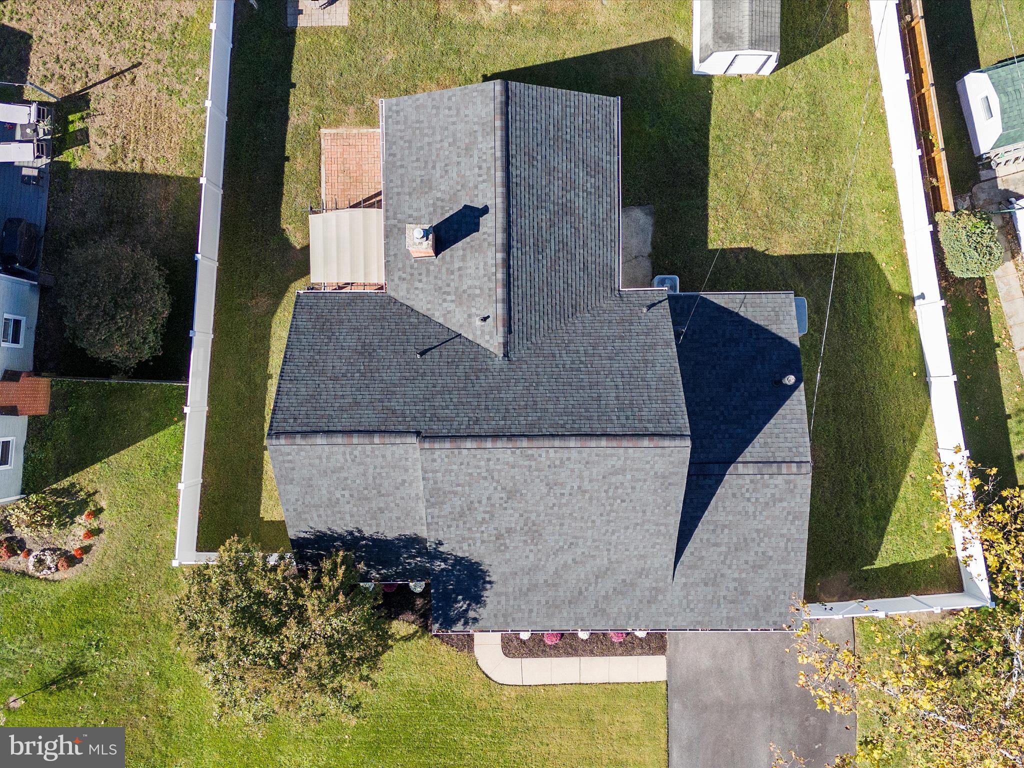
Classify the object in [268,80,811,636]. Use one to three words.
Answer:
house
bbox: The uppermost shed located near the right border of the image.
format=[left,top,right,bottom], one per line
[955,57,1024,157]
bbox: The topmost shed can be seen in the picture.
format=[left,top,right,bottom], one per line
[693,0,782,75]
